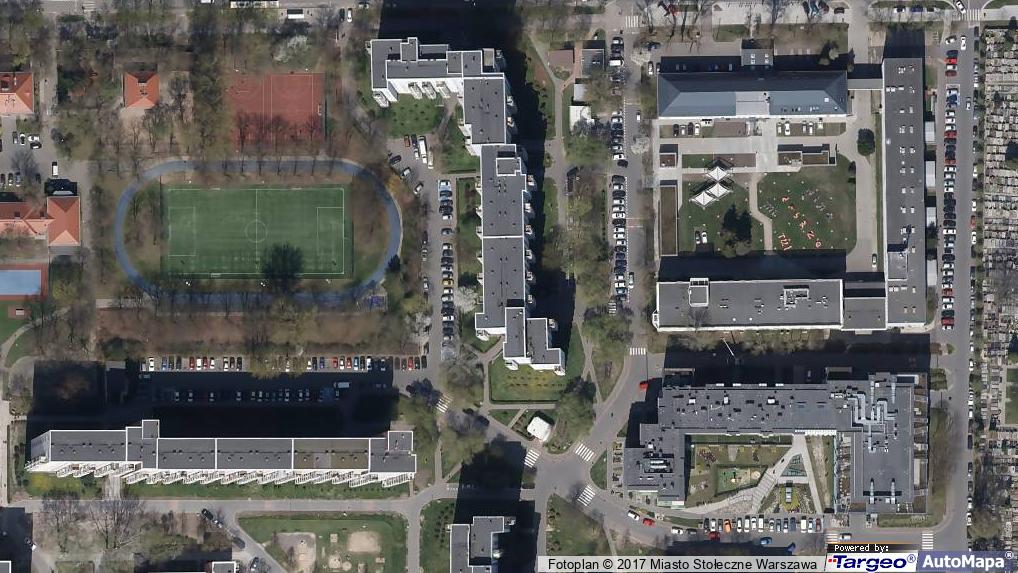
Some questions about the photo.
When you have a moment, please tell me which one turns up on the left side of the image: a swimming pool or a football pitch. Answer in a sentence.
Visible on the left side of the image is a football pitch.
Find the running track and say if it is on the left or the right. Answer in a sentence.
The running track sits on the left side.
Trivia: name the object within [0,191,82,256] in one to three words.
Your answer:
house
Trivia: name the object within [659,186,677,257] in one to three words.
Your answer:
building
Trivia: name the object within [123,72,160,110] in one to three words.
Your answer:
house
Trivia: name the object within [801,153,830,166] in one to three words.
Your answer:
building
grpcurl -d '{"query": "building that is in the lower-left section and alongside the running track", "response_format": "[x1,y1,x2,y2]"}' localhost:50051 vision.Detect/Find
[26,419,417,489]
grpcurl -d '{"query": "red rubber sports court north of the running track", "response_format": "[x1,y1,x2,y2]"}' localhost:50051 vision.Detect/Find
[228,73,325,142]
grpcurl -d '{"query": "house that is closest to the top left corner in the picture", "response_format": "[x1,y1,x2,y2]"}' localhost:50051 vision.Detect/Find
[0,72,34,115]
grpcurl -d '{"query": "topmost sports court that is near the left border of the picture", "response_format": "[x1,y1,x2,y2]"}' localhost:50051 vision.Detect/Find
[0,263,48,300]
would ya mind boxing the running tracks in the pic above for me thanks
[113,158,404,306]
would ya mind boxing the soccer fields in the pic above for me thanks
[161,184,353,278]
